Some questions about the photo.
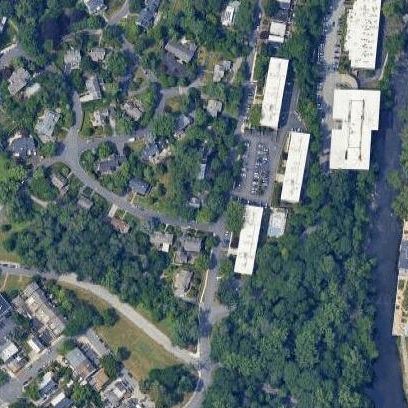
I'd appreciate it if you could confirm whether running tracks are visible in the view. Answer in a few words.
No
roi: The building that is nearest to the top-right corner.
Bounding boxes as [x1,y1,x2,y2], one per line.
[345,0,382,71]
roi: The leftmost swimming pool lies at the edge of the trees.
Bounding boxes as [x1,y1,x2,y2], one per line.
[267,208,287,237]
